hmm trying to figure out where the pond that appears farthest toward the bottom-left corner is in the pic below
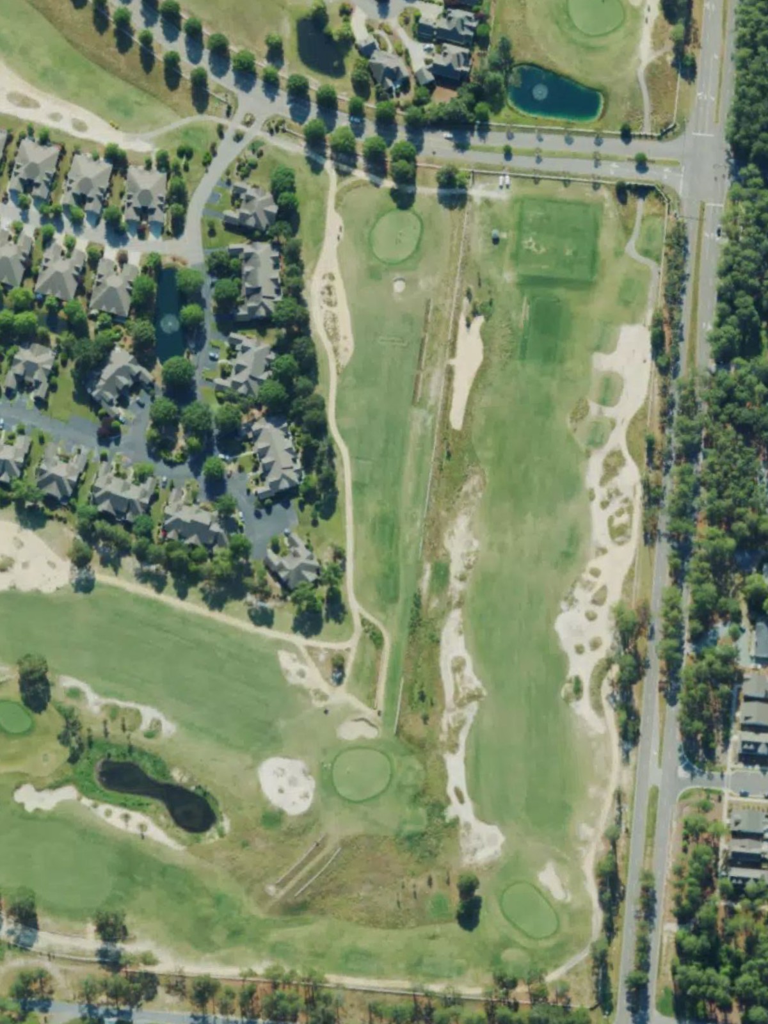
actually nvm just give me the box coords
[97,760,217,834]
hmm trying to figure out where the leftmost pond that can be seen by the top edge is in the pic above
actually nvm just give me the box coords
[295,15,352,79]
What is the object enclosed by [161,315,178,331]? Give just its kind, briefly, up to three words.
fountain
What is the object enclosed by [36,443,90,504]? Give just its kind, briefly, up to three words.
house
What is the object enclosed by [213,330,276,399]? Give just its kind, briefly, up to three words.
house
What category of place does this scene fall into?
golf course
